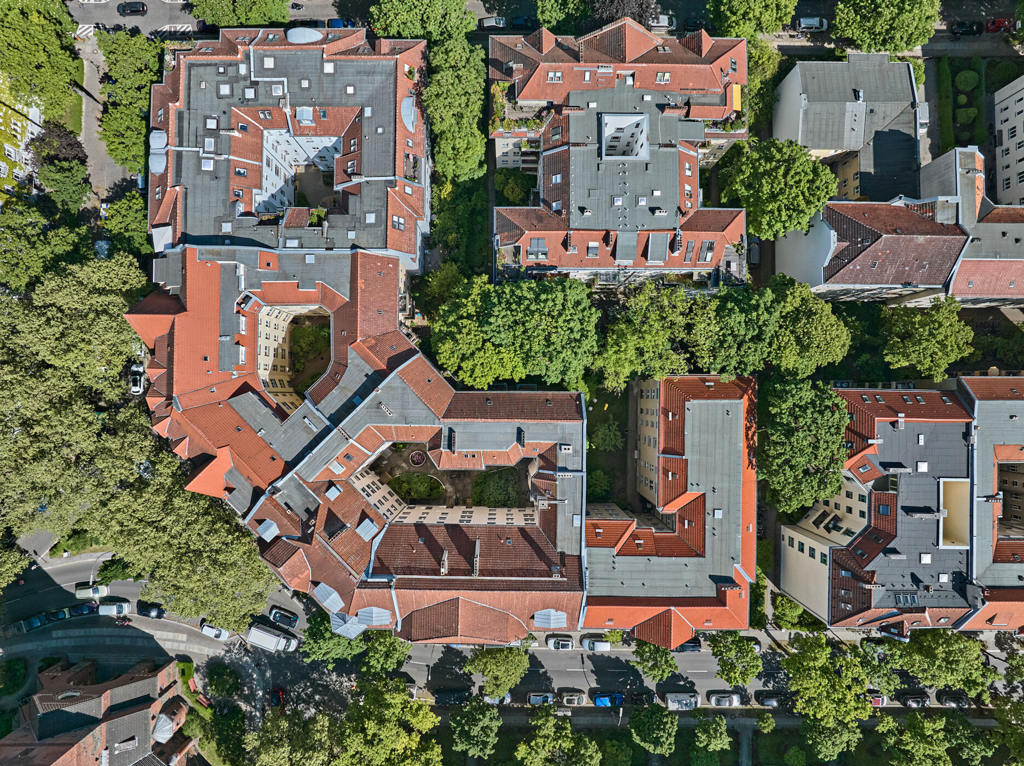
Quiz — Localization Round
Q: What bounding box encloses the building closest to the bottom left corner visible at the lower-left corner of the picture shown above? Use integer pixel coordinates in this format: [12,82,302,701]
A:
[0,652,202,766]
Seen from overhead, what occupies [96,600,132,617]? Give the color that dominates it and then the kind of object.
white car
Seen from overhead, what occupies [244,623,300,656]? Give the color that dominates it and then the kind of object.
white truck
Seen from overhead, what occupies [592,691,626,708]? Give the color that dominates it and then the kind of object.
blue car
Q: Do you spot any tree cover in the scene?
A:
Yes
